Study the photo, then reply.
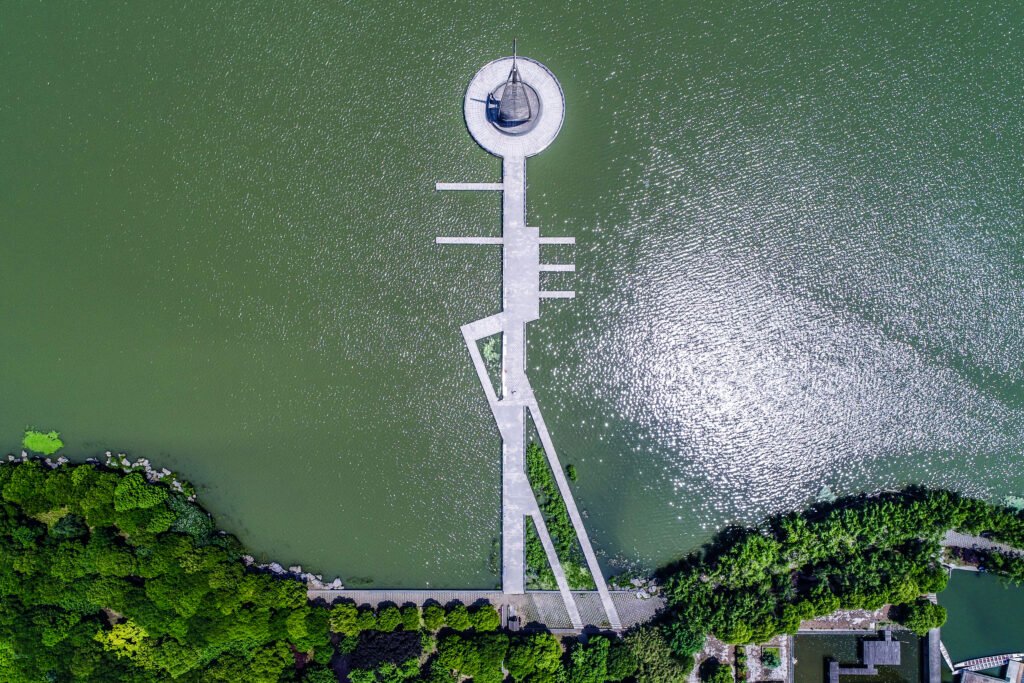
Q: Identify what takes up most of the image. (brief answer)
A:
water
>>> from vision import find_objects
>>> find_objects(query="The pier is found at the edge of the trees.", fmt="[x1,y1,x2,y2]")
[436,157,621,628]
